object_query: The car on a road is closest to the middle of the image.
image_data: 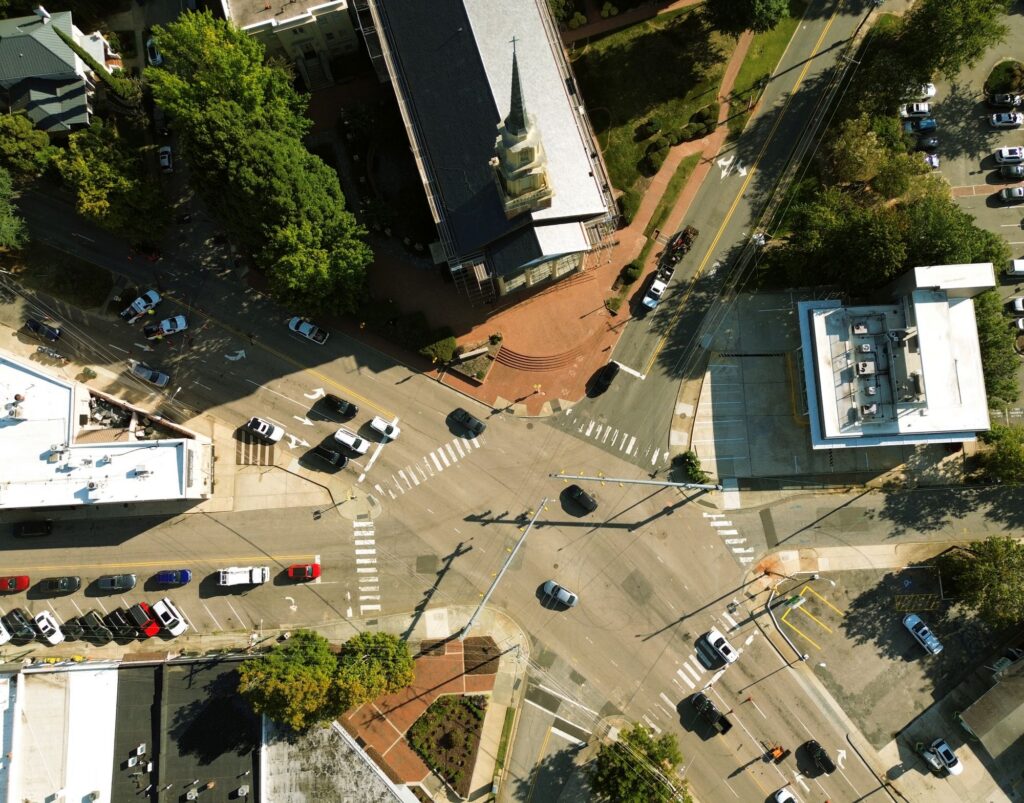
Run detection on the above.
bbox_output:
[446,405,488,438]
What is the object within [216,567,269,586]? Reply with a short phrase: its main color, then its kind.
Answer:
white vehicle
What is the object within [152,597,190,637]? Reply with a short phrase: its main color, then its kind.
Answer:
white car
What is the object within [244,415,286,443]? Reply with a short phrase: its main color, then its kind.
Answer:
white truck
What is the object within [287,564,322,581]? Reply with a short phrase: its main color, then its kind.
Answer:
red car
